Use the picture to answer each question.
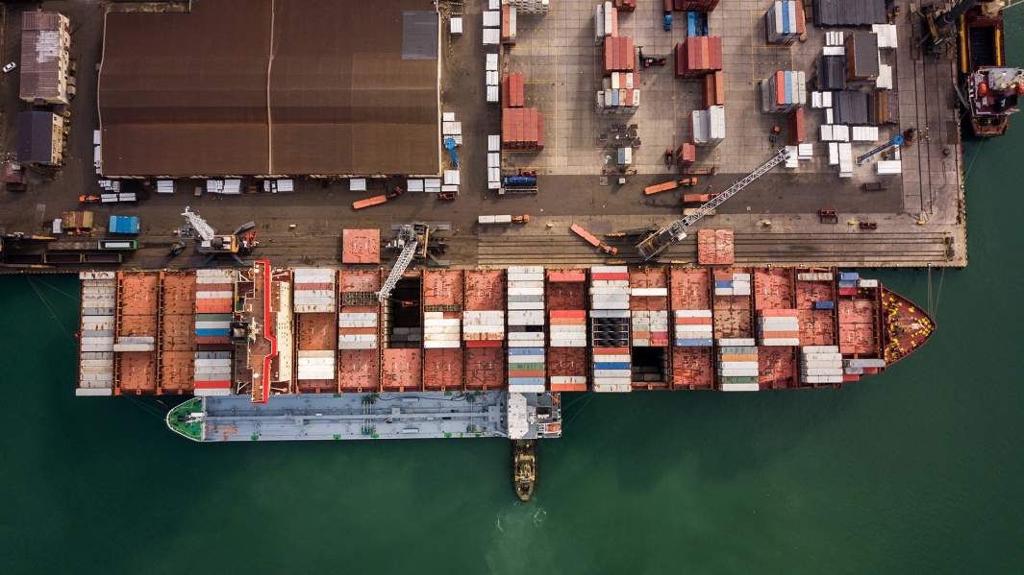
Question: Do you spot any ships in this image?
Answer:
Yes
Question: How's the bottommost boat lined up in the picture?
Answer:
up and down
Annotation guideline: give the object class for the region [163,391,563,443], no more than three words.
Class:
ship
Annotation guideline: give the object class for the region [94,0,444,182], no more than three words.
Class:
warehouse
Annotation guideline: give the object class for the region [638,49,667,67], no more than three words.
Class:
work vehicle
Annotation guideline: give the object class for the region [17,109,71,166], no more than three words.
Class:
building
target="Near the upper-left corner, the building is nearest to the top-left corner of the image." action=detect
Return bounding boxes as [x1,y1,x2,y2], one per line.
[19,10,79,104]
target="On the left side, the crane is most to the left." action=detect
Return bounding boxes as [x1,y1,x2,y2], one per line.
[175,209,264,262]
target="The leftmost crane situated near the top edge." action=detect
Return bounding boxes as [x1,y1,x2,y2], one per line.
[910,0,985,55]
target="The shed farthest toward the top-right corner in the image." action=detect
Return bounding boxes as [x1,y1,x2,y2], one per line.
[846,32,879,81]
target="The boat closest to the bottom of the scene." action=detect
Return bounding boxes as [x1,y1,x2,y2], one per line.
[511,440,539,502]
